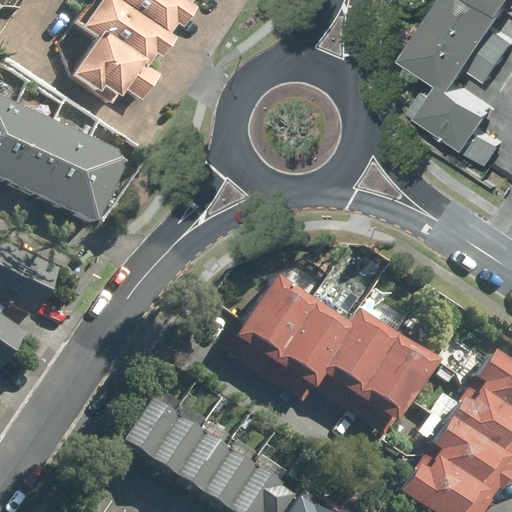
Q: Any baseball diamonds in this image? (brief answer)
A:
No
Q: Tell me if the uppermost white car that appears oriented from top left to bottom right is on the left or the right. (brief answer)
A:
right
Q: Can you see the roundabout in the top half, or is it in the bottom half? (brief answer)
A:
top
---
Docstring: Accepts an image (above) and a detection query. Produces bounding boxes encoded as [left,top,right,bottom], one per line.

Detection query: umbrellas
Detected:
[36,103,50,116]
[453,350,464,361]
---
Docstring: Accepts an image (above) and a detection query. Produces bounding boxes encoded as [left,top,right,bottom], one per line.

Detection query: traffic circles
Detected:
[248,82,341,175]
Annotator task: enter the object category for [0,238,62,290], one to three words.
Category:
house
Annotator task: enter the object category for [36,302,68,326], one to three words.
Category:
truck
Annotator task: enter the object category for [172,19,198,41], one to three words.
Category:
car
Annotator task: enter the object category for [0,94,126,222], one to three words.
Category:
building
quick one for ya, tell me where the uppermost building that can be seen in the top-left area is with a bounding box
[74,0,198,103]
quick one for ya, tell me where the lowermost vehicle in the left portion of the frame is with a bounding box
[2,488,26,512]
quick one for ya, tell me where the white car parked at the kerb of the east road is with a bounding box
[448,248,476,272]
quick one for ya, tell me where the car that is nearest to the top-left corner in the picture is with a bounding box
[46,12,70,38]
